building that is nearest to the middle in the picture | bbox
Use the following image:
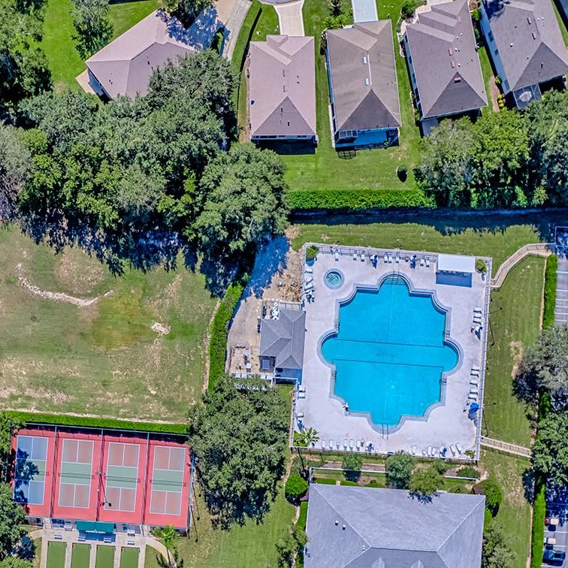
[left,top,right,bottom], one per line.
[258,309,305,370]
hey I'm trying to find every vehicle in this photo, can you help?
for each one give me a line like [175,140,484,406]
[549,519,560,525]
[548,537,557,545]
[546,549,568,560]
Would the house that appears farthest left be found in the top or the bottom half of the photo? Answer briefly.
top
